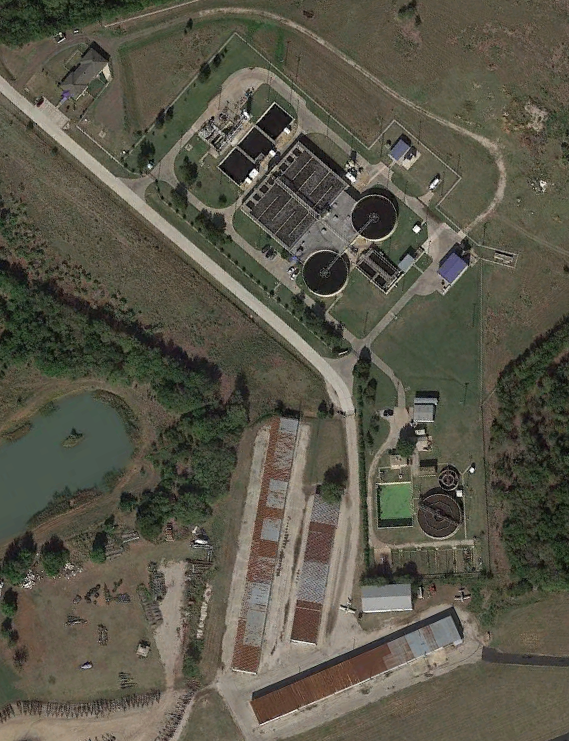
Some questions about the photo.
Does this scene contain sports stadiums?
No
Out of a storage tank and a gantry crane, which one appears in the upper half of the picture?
storage tank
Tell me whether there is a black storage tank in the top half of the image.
Yes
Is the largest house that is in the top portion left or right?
left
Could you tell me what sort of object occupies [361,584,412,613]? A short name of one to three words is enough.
shed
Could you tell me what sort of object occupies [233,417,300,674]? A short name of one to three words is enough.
hangar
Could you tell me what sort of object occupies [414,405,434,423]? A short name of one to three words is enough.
building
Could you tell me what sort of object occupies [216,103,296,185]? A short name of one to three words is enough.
storage tank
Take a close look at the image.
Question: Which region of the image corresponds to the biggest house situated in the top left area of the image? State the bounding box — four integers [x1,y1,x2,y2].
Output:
[60,46,109,100]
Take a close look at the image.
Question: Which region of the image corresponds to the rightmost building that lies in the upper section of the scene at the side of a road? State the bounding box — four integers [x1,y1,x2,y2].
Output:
[437,252,469,287]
